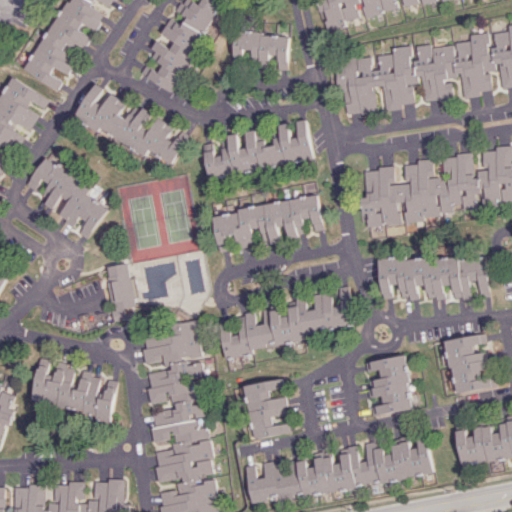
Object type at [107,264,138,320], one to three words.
building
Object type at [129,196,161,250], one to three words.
tennis court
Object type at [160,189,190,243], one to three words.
tennis court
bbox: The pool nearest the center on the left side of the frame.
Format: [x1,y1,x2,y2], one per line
[186,259,205,294]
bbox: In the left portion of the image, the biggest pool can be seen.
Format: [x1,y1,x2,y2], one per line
[142,262,176,300]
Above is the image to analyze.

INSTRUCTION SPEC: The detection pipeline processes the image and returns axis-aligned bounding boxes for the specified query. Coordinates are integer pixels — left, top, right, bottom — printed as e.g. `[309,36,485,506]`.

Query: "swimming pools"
[142,262,176,300]
[186,259,205,294]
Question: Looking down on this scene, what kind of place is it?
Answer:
residential area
